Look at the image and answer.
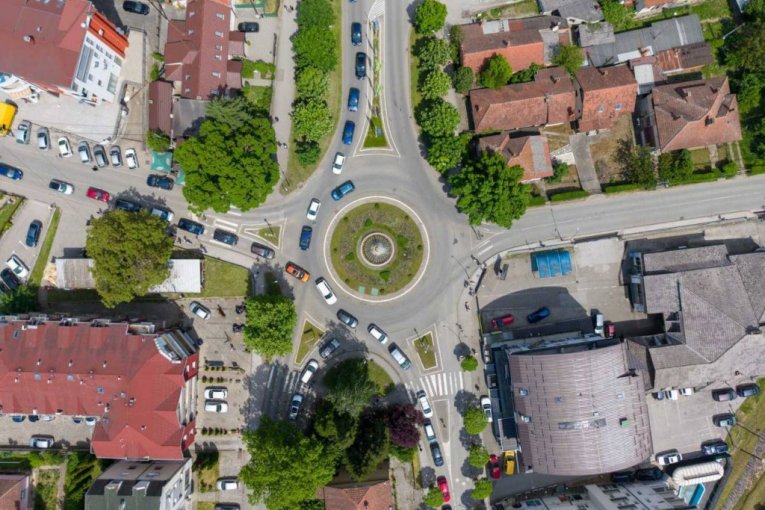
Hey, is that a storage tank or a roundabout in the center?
roundabout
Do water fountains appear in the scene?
Yes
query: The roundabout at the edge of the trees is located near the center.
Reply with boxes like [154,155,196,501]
[281,153,473,345]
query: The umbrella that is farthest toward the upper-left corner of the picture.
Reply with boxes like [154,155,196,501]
[151,152,173,172]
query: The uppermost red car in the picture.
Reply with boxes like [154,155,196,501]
[86,188,111,202]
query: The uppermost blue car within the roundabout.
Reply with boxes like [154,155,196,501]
[332,182,355,199]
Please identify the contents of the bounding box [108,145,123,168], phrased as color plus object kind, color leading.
gray car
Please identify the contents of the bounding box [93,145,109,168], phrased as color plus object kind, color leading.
gray car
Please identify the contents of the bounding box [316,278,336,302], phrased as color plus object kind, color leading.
white car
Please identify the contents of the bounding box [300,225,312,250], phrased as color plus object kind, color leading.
blue vehicle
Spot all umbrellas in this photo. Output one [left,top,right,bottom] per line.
[151,152,173,172]
[172,172,186,186]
